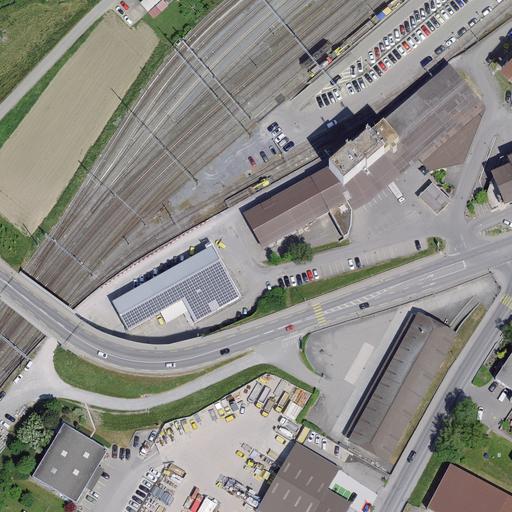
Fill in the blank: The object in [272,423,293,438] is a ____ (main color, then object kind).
white vehicle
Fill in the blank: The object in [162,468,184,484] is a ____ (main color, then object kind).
white vehicle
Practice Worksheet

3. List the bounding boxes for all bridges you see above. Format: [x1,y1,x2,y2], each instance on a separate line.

[0,258,86,350]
